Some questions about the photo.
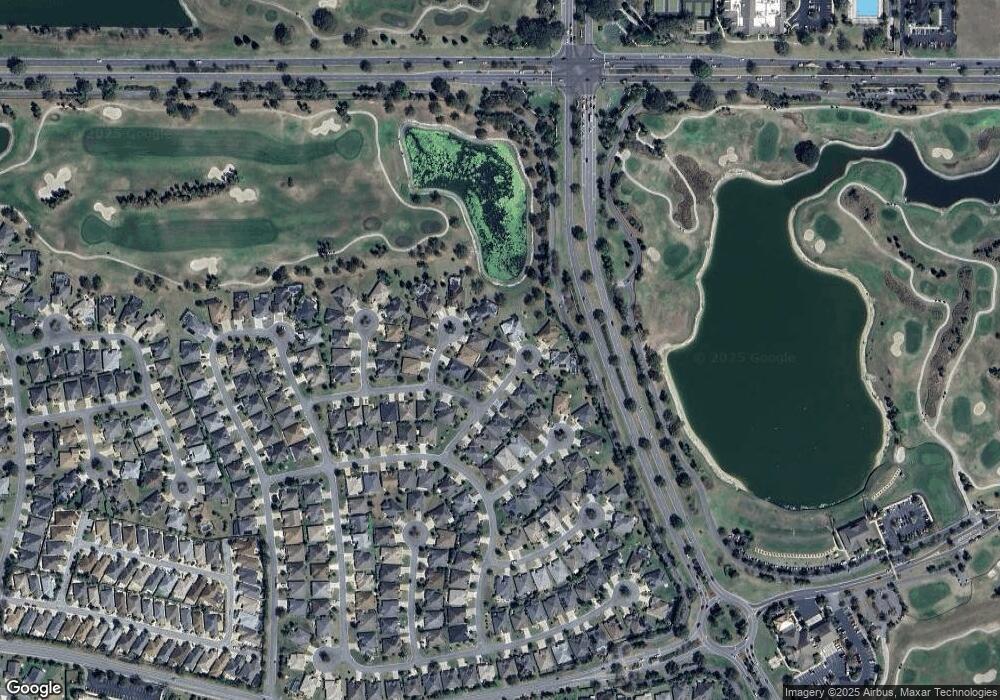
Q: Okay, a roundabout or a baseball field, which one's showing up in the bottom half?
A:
roundabout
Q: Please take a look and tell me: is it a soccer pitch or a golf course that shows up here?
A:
golf course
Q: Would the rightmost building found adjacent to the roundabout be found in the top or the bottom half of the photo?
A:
bottom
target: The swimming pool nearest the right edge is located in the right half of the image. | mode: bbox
[851,0,884,26]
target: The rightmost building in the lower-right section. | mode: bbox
[829,519,871,557]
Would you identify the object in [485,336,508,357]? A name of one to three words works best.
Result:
house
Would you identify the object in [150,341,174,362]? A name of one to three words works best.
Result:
house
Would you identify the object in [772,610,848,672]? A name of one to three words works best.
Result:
building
